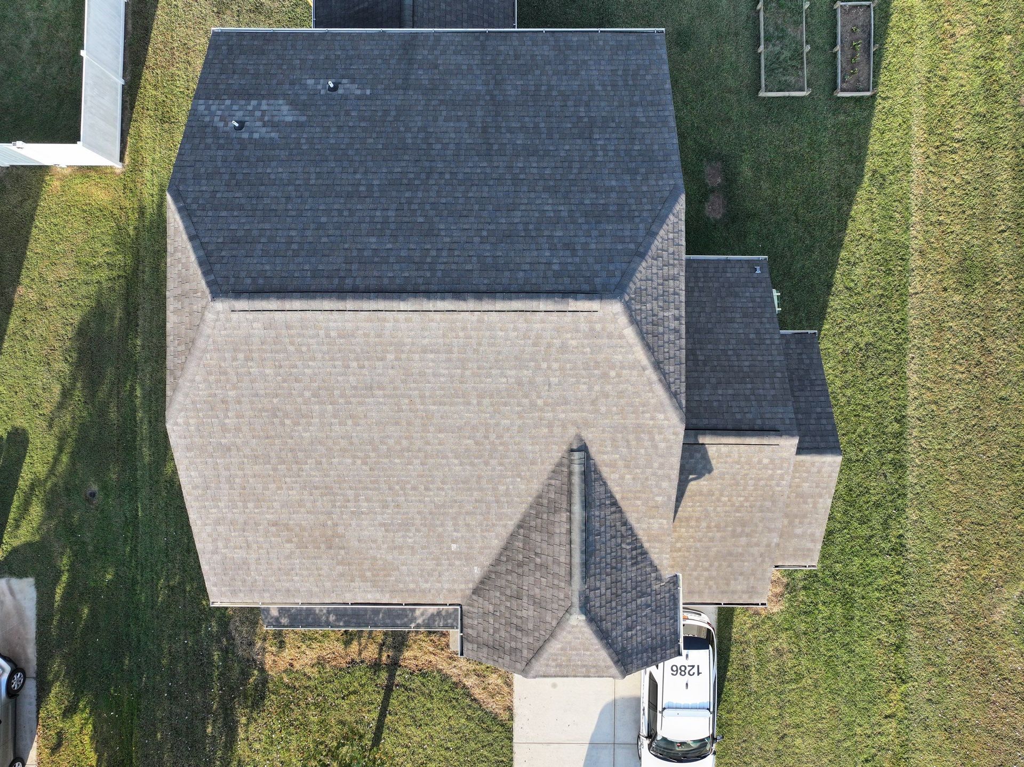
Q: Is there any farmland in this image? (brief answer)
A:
No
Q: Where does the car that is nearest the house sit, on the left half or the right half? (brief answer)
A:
right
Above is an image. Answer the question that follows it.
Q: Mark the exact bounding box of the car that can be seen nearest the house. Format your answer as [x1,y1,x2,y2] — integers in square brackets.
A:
[635,611,727,767]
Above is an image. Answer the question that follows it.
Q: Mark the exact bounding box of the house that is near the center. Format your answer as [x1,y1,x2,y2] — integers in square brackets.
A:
[165,0,843,683]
